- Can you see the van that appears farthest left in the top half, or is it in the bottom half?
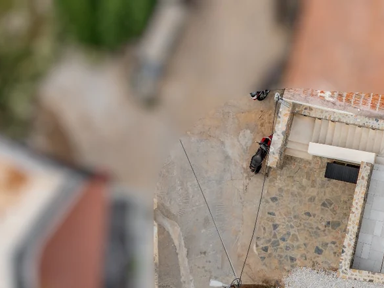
top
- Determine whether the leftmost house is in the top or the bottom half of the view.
bottom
